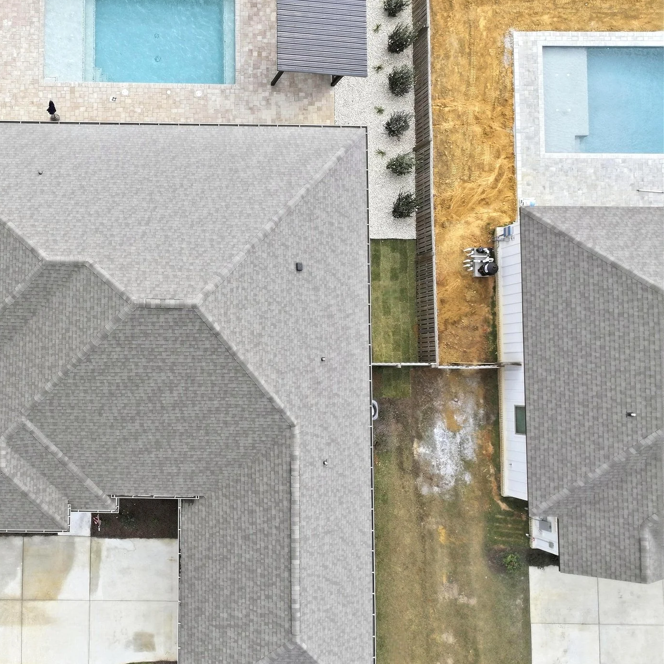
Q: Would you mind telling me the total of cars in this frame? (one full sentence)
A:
The photo contains no cars.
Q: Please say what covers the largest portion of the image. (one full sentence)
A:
The largest share of the image is taken up by buildings.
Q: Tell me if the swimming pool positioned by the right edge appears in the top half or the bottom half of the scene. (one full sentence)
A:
Seen from above, the swimming pool positioned by the right edge lies in the top half of the view.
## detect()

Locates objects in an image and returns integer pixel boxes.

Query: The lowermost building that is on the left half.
[0,122,375,664]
